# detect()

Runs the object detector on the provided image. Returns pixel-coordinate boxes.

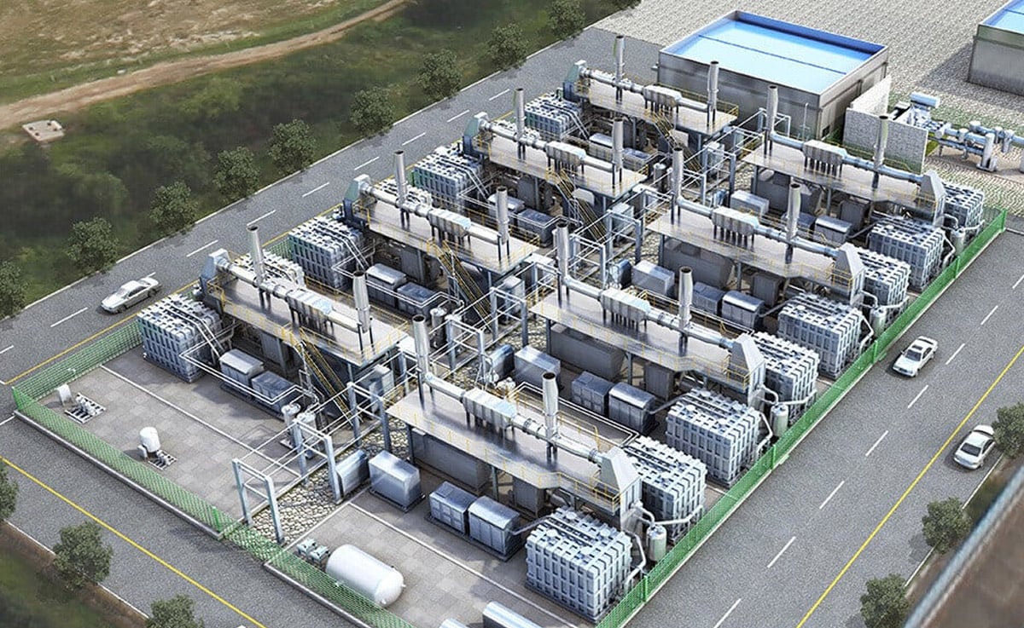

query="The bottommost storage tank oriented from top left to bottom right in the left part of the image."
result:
[326,543,409,610]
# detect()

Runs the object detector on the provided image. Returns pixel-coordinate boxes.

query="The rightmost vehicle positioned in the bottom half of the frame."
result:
[946,422,995,472]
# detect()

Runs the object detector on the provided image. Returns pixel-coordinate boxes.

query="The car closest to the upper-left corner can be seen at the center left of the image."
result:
[103,270,169,309]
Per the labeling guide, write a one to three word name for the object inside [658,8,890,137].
building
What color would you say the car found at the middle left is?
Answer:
white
